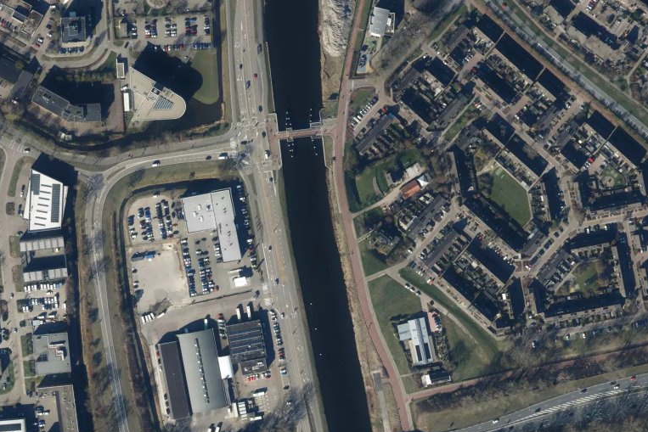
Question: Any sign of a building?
Yes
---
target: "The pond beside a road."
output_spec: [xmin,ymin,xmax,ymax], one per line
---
[154,0,222,129]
